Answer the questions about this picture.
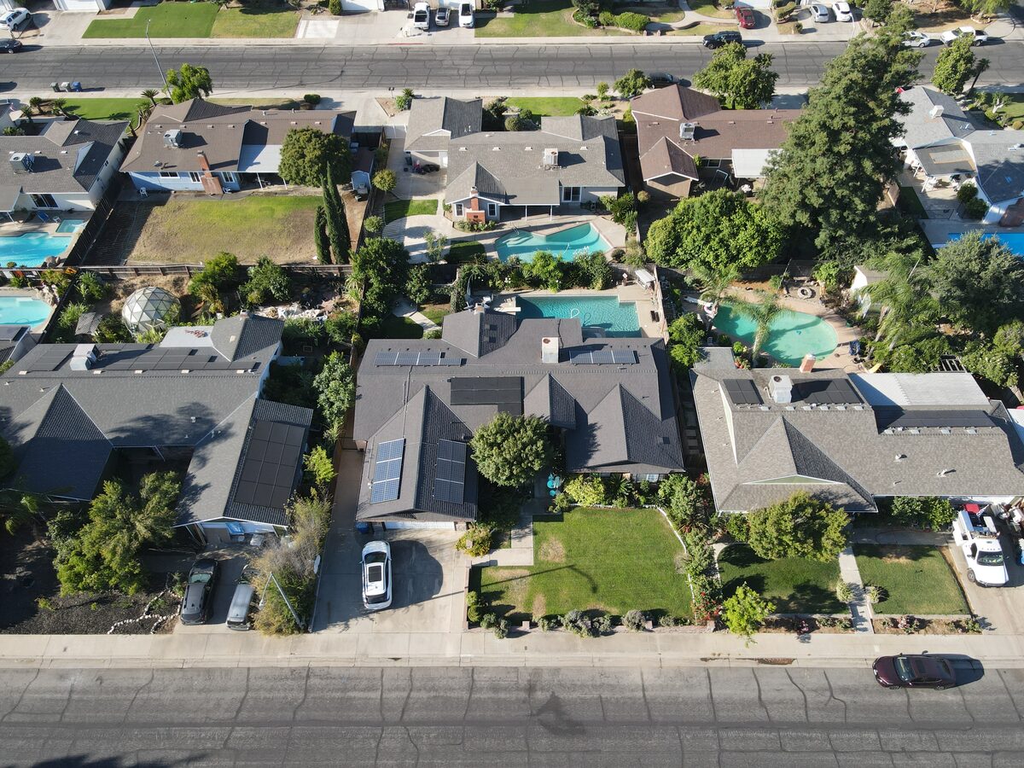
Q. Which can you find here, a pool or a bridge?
pool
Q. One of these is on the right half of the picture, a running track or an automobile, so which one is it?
automobile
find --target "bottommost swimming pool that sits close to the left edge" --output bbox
[0,293,48,329]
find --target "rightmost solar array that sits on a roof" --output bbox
[877,410,994,426]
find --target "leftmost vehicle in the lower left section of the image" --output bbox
[176,556,226,631]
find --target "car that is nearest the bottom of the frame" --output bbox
[868,651,960,691]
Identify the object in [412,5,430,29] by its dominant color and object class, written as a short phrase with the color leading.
white vehicle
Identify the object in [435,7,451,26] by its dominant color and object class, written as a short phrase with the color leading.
gray car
